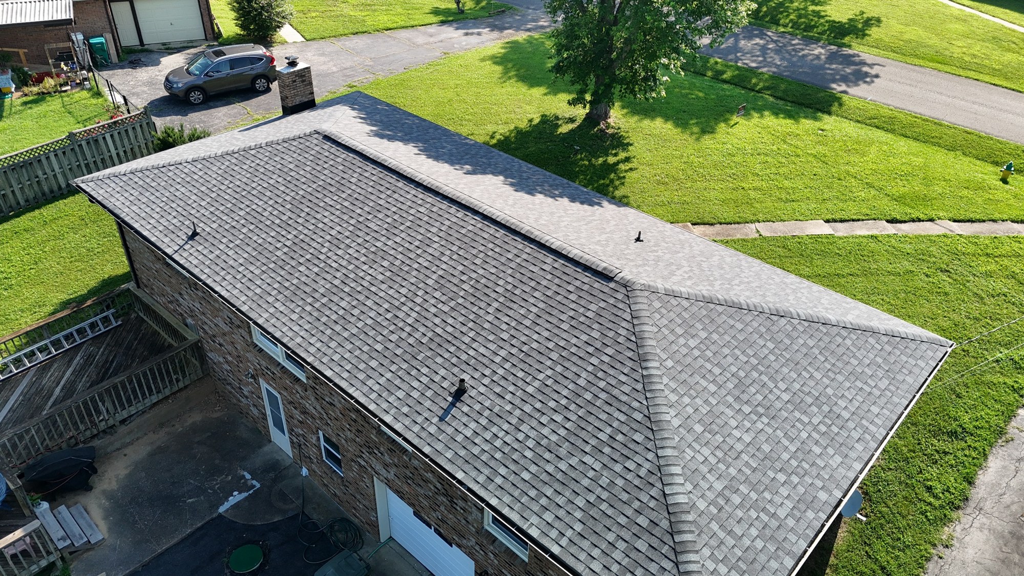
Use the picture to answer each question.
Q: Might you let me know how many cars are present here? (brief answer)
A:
1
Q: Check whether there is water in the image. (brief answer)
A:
No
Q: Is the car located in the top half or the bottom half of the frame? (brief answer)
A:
top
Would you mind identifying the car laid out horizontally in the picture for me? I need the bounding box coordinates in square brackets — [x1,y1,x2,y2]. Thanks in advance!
[162,41,278,104]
